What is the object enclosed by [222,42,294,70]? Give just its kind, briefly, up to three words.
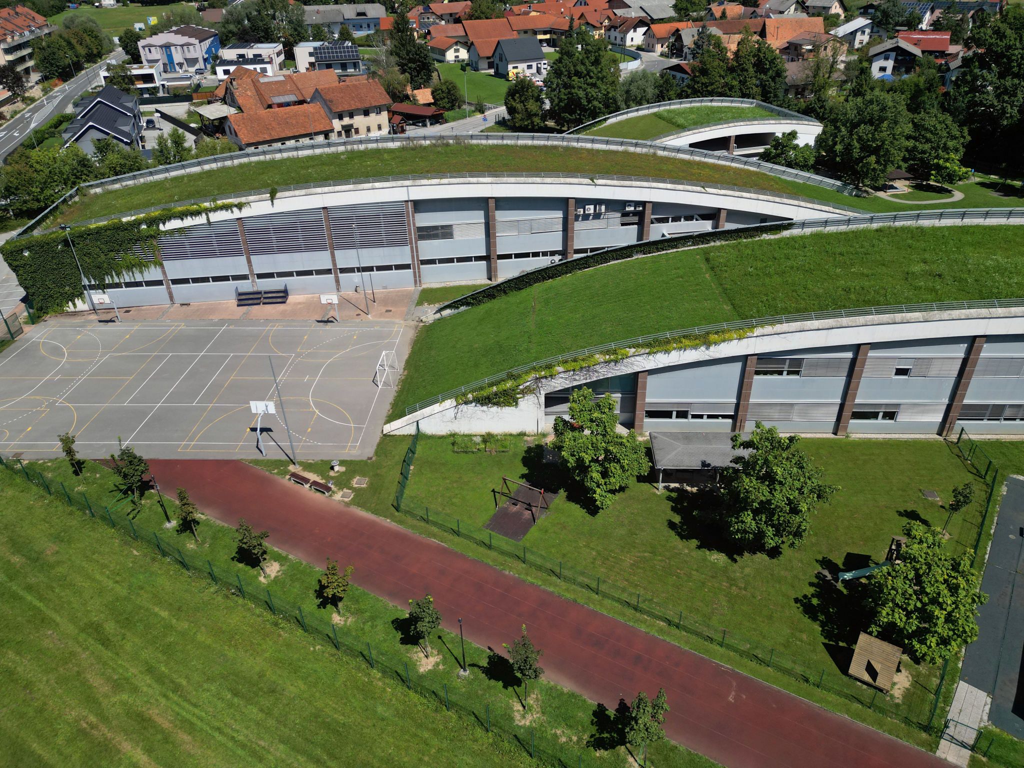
house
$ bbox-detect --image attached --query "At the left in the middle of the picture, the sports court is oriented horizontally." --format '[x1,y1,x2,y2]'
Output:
[0,320,426,459]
